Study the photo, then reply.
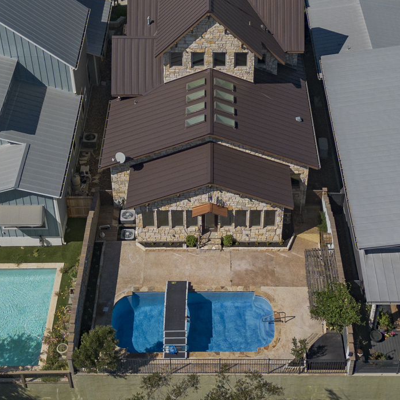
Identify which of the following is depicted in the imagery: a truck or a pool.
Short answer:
pool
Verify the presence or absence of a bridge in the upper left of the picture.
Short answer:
No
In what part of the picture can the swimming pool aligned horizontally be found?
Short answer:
bottom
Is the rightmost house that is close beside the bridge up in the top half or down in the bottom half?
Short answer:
top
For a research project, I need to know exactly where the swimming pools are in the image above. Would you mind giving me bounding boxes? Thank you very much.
[104,284,284,361]
[0,265,61,371]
